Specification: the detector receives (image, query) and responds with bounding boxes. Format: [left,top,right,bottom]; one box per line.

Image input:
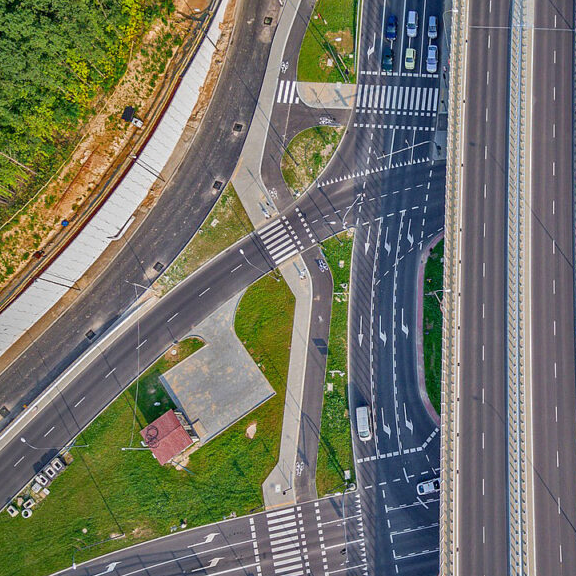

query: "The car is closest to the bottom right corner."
[416,477,439,495]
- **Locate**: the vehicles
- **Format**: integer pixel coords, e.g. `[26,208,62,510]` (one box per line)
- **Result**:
[425,45,439,73]
[385,15,399,42]
[426,16,439,40]
[355,406,372,442]
[416,477,439,495]
[404,47,417,70]
[405,12,419,39]
[381,45,395,71]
